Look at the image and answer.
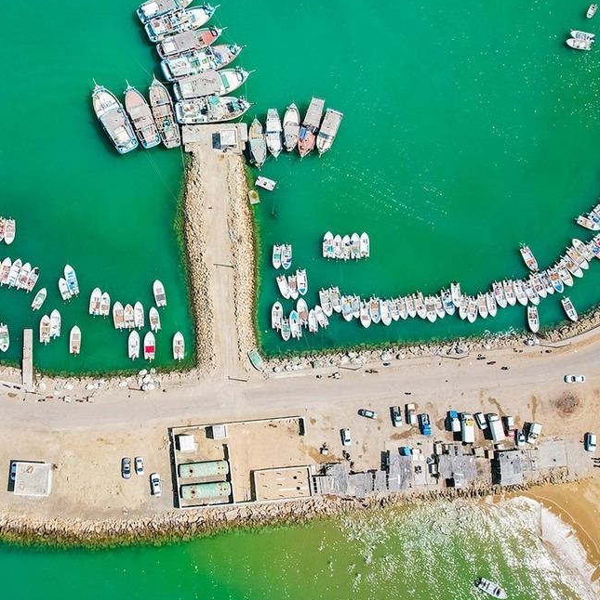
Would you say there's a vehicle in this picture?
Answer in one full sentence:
Yes, looking at the shot, I can spot a vehicle.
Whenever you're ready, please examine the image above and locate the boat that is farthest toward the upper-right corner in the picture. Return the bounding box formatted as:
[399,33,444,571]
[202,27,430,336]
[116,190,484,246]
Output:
[587,1,599,19]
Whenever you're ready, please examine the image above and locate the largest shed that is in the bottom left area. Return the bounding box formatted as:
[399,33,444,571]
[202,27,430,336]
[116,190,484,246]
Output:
[14,461,52,496]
